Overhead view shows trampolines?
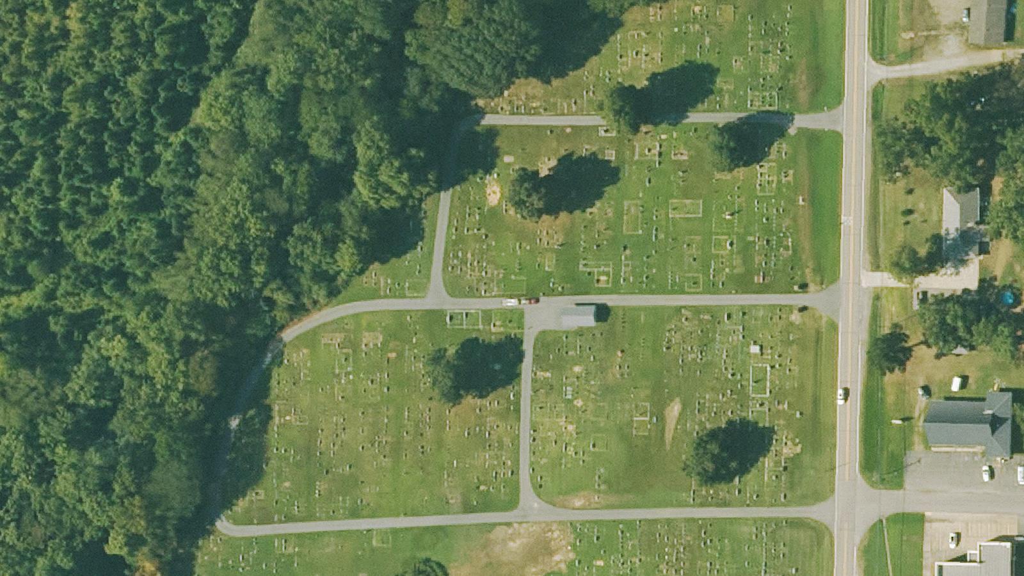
No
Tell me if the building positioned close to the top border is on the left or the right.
right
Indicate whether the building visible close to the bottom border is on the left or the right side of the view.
right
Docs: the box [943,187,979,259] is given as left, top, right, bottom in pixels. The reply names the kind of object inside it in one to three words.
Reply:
house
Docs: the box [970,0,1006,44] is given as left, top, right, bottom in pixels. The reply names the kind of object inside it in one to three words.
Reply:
building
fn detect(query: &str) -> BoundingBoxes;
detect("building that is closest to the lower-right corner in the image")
[934,541,1011,576]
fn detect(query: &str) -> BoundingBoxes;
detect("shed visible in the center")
[561,305,596,326]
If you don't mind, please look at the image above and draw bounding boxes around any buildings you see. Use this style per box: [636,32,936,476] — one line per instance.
[561,305,596,326]
[924,392,1012,456]
[943,187,979,259]
[934,541,1011,576]
[970,0,1006,44]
